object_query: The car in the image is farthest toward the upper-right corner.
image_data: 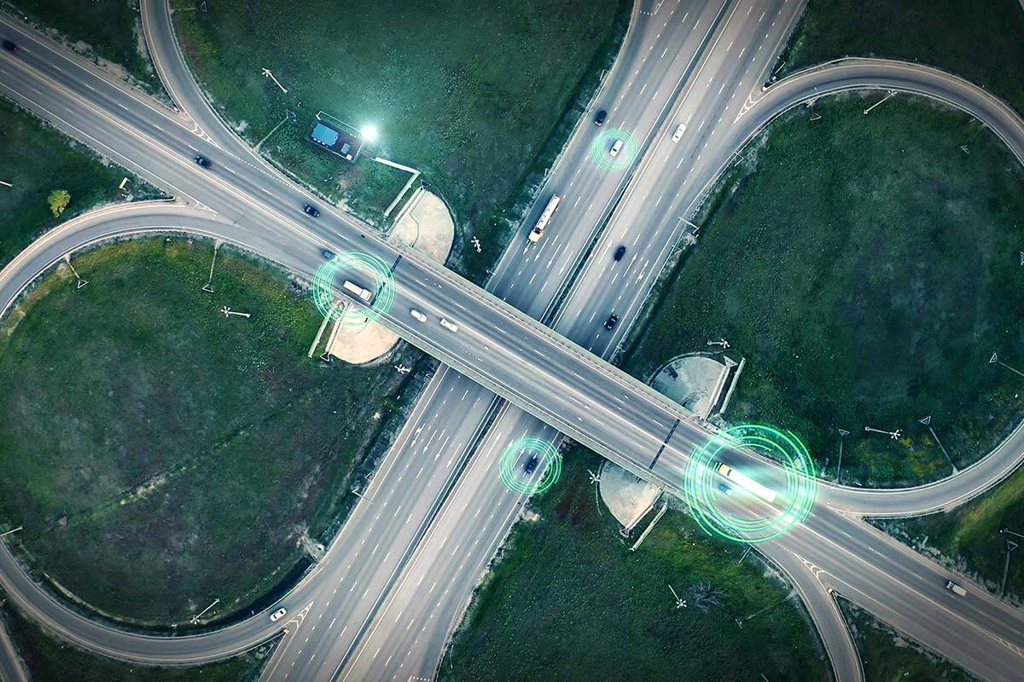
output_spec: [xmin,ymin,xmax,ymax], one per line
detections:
[671,123,685,142]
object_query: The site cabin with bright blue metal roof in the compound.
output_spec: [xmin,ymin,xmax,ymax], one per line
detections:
[310,120,339,145]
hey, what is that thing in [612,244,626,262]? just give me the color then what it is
black car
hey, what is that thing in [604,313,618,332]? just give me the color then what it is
black car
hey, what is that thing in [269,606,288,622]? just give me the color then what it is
white car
